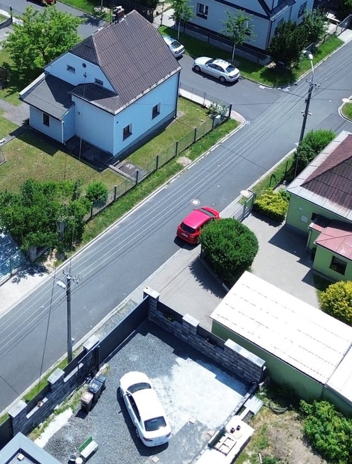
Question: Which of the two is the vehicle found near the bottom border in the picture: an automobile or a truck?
automobile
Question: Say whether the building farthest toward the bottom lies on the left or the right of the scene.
left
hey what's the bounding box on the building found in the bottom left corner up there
[0,434,59,464]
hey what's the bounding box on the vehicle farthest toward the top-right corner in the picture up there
[191,59,243,86]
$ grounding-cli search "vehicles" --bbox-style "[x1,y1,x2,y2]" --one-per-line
[117,375,176,450]
[34,0,59,7]
[174,205,223,247]
[162,31,191,56]
[191,59,243,86]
